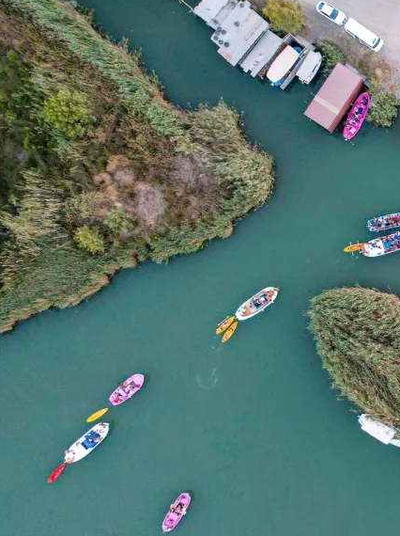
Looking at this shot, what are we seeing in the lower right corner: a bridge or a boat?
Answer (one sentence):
Visible in the lower right corner is a boat.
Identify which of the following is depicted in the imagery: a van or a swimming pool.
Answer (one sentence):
Visible in the photo is a van.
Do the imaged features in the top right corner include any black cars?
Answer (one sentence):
No, no black car can be made out in the top right corner.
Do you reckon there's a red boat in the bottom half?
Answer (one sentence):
Yes, a red boat appears in the bottom half.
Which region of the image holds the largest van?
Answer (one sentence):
The largest van is in the top right part of the image.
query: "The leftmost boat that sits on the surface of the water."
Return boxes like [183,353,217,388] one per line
[47,464,66,483]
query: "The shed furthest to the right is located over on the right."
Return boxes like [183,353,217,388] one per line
[305,63,365,135]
